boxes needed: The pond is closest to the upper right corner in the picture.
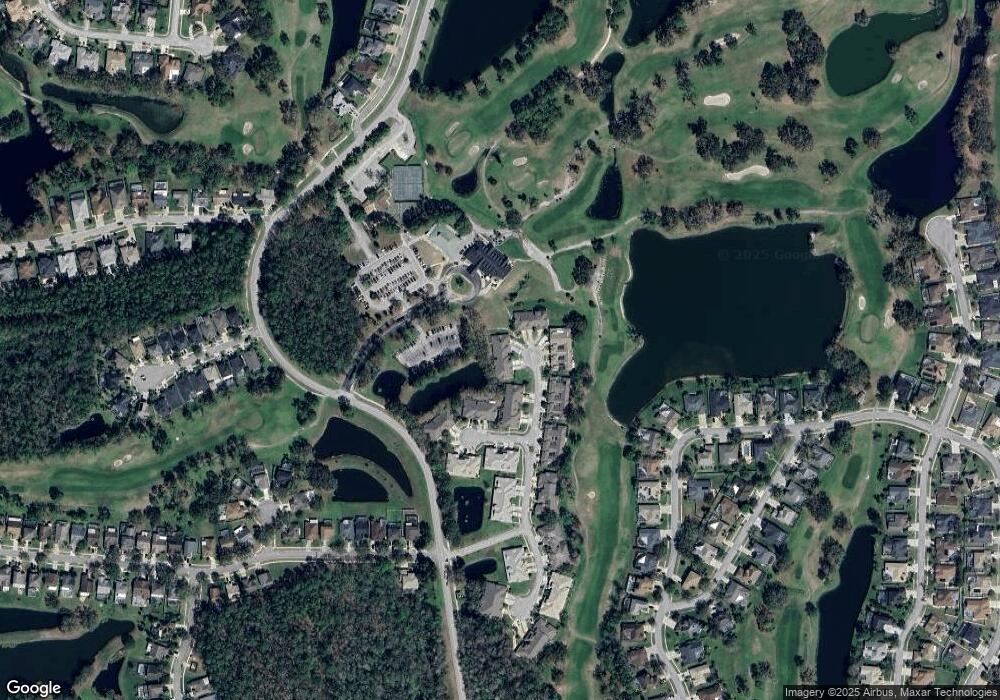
[869,0,988,218]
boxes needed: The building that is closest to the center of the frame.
[489,335,511,382]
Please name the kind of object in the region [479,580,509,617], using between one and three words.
building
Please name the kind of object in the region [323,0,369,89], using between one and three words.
pond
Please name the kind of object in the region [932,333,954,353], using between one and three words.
house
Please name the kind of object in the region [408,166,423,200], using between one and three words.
tennis court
